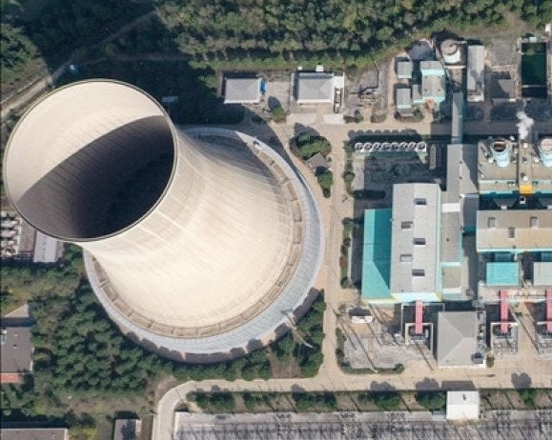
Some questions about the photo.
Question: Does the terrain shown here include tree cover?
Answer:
Yes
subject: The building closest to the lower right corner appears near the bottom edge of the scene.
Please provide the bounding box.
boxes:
[446,391,482,421]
